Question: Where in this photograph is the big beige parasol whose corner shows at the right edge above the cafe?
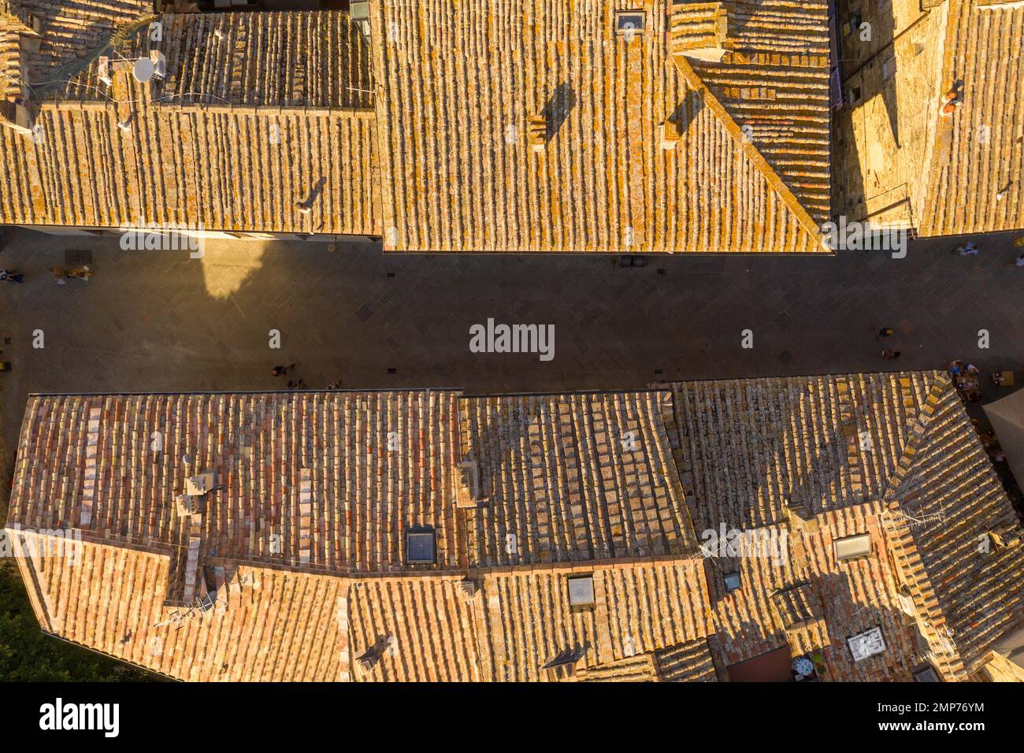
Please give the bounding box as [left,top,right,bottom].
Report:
[981,385,1024,490]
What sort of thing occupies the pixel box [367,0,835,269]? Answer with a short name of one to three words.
house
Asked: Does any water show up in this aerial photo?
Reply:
No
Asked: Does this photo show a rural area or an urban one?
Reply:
urban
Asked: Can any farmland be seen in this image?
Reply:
No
